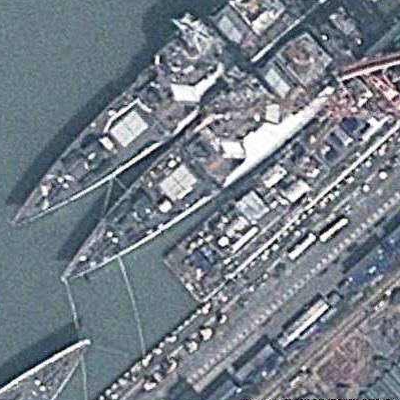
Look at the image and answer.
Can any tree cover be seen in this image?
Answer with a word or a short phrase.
No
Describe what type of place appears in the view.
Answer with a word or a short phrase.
port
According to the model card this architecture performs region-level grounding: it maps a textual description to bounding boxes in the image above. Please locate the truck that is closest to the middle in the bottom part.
[287,234,319,262]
